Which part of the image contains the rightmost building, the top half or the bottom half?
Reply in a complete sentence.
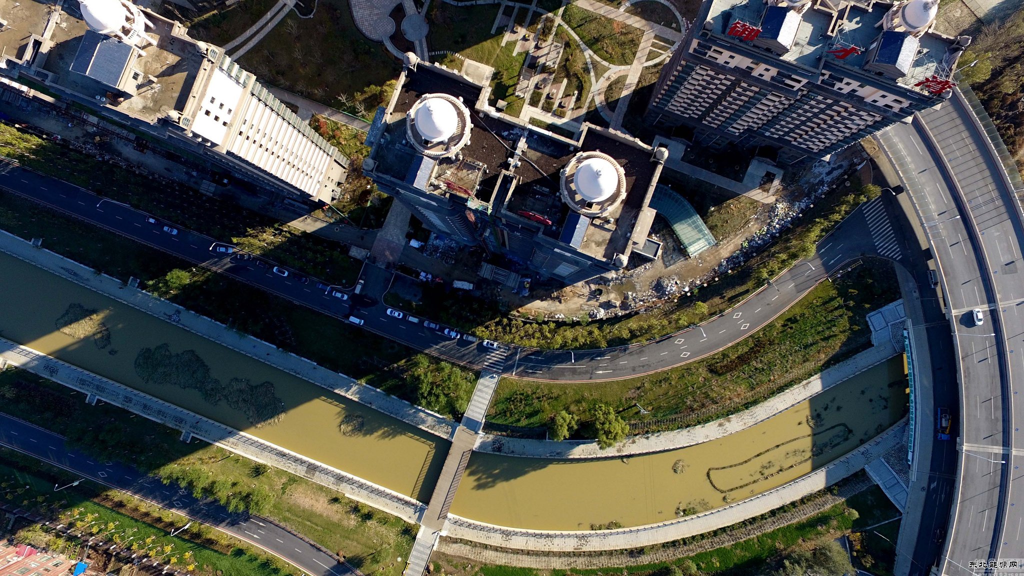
It is in the top half that the rightmost building appears.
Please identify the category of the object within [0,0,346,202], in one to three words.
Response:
building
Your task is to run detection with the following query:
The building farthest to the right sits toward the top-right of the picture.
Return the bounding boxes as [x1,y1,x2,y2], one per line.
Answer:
[629,0,976,184]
